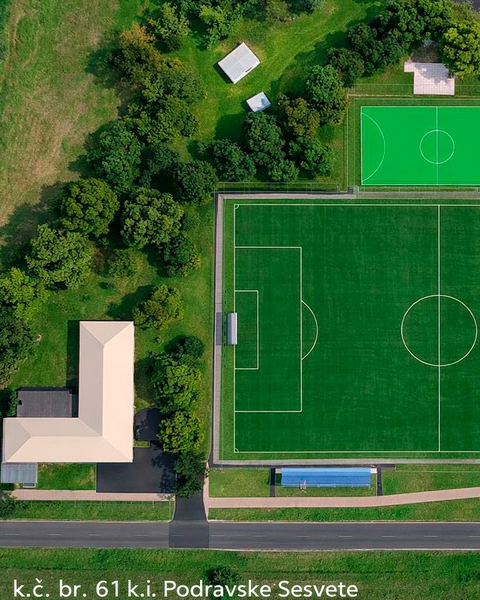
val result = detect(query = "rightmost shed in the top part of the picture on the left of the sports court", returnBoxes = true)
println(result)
[247,91,274,113]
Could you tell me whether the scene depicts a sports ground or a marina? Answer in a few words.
sports ground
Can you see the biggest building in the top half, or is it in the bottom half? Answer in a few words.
bottom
